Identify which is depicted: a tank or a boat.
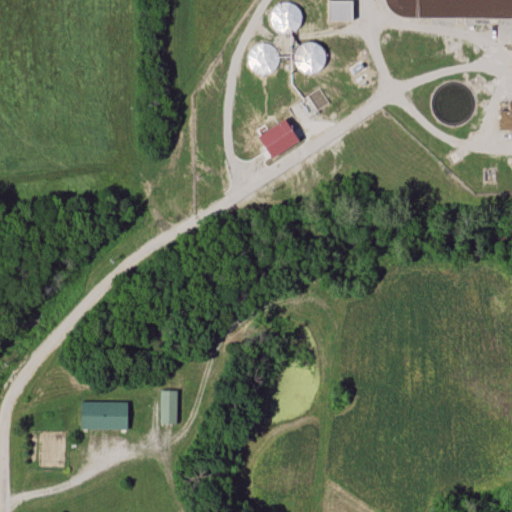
tank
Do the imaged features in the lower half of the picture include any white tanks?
No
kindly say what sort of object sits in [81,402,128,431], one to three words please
barn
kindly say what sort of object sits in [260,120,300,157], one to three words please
building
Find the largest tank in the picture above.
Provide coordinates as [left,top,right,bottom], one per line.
[430,80,478,128]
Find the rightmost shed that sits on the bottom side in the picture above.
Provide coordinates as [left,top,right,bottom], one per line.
[160,390,178,426]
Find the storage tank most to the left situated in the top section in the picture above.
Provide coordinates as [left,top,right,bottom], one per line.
[247,43,280,76]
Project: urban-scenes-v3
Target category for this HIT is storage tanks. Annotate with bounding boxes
[247,43,280,76]
[294,42,328,75]
[430,80,478,128]
[270,0,303,34]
